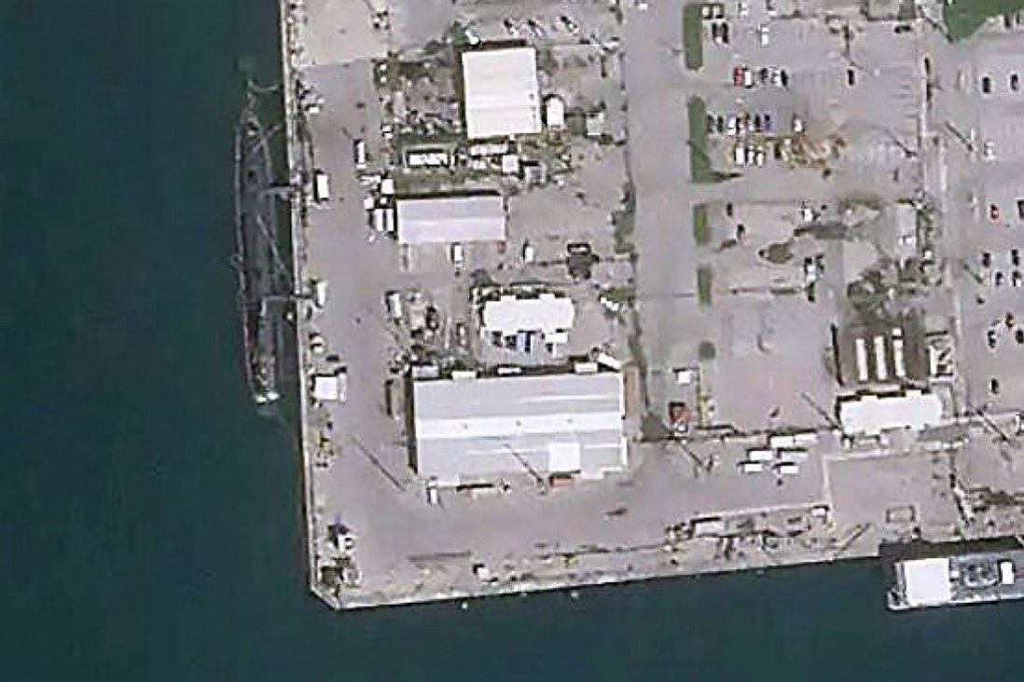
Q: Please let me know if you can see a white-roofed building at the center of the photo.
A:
Yes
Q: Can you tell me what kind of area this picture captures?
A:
port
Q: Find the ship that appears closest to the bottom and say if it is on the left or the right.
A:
right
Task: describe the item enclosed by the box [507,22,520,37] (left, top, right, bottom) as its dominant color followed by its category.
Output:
white vehicle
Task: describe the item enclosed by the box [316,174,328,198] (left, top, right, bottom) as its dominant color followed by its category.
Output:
white vehicle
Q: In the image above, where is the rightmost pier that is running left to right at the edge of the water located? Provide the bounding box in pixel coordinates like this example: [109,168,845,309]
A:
[880,535,1024,578]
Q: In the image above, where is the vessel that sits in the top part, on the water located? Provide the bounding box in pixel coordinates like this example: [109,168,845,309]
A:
[237,90,281,403]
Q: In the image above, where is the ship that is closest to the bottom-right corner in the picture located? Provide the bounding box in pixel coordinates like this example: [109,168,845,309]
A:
[888,550,1024,611]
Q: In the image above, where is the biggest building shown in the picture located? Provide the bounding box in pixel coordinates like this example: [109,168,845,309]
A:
[413,372,627,476]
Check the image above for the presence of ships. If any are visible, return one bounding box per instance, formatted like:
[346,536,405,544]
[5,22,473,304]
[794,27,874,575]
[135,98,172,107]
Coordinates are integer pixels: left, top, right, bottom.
[237,90,281,403]
[888,550,1024,611]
